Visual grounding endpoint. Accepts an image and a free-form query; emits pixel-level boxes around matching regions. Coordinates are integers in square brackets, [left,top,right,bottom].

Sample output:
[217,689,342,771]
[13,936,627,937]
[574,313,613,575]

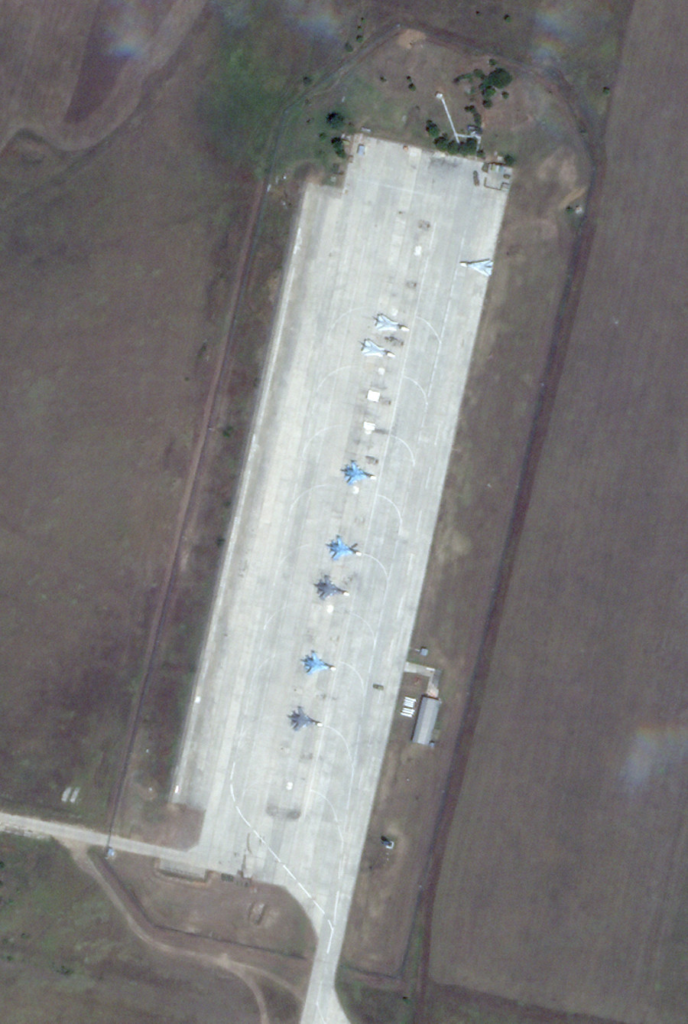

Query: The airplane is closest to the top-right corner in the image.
[460,260,495,276]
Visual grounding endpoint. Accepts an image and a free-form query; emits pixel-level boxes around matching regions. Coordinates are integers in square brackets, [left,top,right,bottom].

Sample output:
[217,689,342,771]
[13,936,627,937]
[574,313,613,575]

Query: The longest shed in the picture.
[413,697,440,745]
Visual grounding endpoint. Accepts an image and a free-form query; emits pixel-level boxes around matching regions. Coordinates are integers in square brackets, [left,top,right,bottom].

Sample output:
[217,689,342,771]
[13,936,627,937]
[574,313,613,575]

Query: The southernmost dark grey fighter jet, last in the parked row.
[286,708,324,732]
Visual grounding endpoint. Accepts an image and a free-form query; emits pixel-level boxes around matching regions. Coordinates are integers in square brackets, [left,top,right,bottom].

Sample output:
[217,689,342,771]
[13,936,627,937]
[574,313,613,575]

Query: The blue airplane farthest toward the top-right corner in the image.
[340,460,377,485]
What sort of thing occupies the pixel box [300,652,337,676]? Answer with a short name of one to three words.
airplane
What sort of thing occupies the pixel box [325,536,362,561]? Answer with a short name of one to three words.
airplane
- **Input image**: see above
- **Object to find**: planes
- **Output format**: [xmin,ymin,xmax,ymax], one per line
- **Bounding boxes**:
[313,577,350,601]
[460,260,495,276]
[375,316,410,332]
[300,652,337,676]
[340,460,377,485]
[360,341,396,357]
[325,536,362,561]
[286,708,324,732]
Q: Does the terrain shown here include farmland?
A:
Yes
